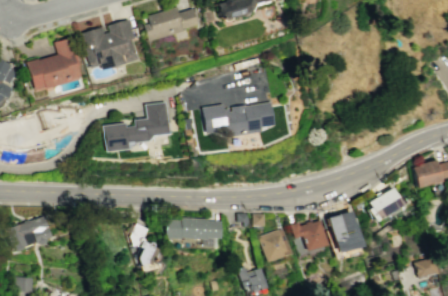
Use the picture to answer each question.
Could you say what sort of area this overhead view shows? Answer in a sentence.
The area seen from above is a residential area.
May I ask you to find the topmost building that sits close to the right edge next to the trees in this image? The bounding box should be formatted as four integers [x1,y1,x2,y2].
[414,160,448,188]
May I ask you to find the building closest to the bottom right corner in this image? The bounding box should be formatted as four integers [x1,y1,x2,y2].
[414,260,440,278]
